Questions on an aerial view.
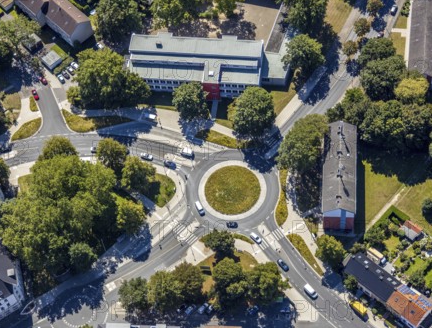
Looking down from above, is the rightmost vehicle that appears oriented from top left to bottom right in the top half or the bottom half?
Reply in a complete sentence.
You can find the rightmost vehicle that appears oriented from top left to bottom right in the bottom half.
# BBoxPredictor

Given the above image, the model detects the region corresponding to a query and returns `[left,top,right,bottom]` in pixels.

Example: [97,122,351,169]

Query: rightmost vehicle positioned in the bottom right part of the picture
[366,244,386,264]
